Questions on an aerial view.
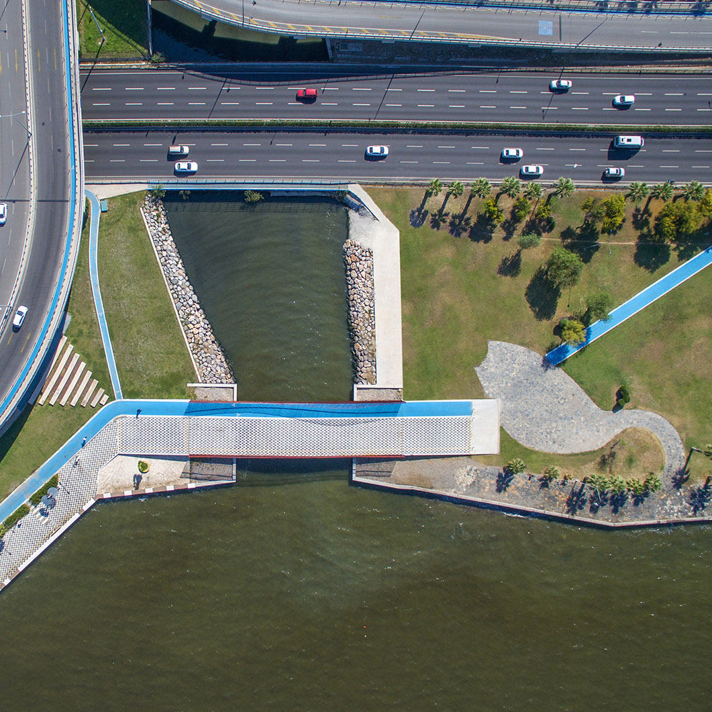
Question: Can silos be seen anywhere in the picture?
No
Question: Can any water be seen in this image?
Yes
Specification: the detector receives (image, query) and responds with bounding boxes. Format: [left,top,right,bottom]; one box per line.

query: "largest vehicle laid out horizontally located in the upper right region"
[611,135,642,148]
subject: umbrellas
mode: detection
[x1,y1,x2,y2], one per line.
[42,495,52,505]
[48,486,59,497]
